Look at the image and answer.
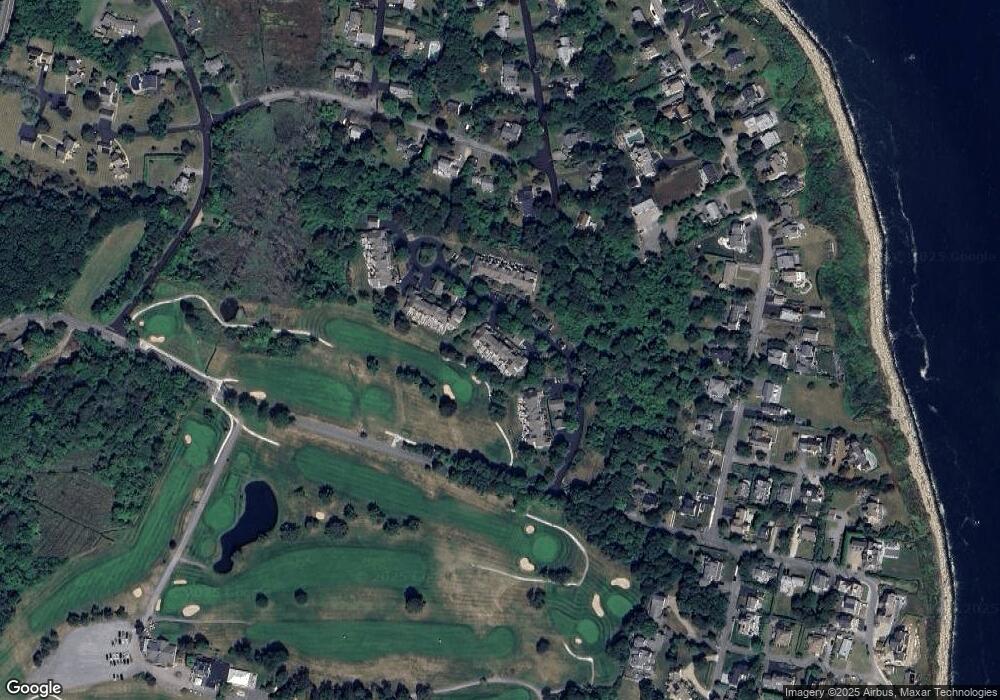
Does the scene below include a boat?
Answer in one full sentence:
No, no boat is visible in the scene.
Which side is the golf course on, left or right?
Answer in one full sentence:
The golf course sits on the left side.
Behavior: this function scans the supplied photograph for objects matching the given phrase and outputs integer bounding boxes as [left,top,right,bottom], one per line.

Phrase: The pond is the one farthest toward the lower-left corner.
[214,481,278,573]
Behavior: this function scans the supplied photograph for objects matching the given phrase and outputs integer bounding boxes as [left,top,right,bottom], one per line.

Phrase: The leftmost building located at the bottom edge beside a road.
[142,636,185,668]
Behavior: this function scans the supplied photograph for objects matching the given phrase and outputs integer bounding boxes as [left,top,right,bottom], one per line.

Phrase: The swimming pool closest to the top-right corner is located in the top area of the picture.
[625,128,644,145]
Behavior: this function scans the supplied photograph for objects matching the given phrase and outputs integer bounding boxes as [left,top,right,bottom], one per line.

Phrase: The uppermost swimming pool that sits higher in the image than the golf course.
[428,40,440,60]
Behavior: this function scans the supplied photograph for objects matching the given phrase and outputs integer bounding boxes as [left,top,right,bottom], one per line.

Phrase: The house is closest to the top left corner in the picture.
[25,45,53,67]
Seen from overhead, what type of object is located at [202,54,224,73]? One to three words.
house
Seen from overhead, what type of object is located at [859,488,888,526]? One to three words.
house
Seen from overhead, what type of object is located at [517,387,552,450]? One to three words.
building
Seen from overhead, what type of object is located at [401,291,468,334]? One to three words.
building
